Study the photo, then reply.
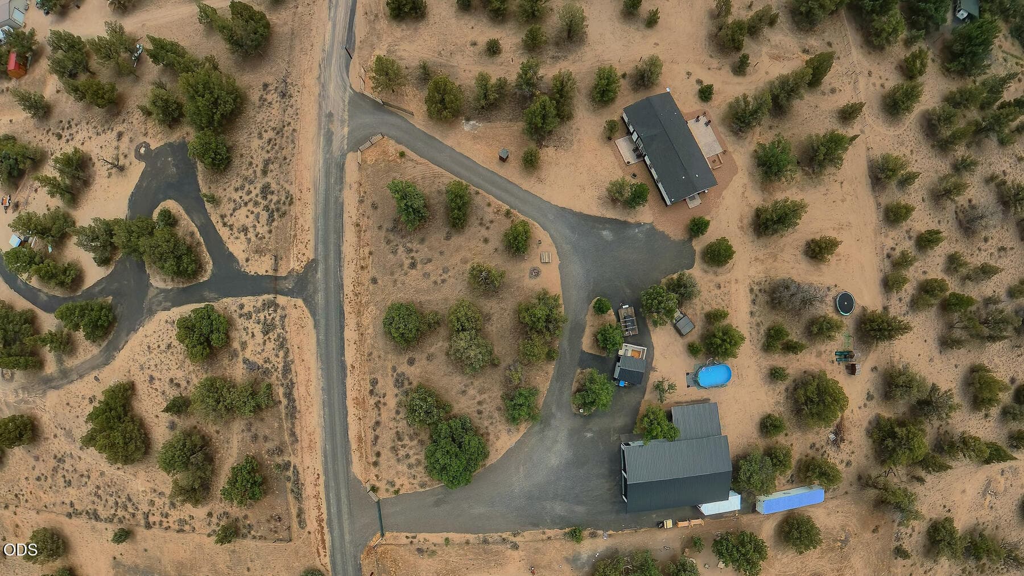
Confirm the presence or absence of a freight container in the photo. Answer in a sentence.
Yes, the picture does show a freight container.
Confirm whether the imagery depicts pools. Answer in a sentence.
Yes, there's a pool down there.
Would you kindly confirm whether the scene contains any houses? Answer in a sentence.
Yes, the photo shows a house.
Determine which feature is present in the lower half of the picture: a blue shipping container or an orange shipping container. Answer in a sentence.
The feature located in the lower half of the picture is a blue shipping container.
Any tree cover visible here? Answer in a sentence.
Yes, there's tree cover in this view.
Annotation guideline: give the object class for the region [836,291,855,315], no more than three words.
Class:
trampoline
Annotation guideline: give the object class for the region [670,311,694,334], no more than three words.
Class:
car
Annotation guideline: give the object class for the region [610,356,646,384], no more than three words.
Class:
shed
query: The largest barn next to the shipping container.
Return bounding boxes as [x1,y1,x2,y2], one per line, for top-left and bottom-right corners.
[618,435,733,513]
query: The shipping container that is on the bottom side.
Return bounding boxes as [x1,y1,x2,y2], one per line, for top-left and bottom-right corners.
[756,486,826,515]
